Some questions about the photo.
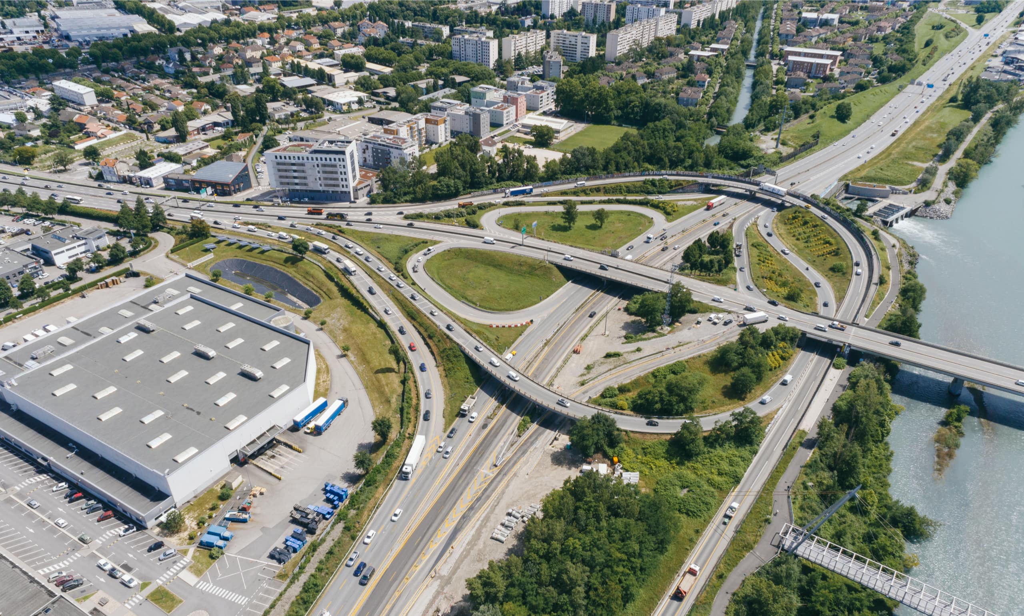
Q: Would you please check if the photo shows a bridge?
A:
Yes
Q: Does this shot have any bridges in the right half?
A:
Yes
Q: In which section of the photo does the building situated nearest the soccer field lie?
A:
top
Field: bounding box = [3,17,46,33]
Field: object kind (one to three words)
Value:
building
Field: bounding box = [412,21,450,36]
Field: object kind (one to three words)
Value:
building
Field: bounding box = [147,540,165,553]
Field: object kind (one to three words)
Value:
vehicle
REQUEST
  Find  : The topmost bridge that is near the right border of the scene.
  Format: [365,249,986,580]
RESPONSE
[788,308,1024,407]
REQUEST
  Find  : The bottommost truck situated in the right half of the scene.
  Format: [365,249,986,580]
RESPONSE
[678,563,701,597]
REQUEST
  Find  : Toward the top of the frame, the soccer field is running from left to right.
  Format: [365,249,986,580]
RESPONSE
[551,124,630,152]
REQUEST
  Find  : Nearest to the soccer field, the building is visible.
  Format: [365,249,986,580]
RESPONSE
[522,115,573,140]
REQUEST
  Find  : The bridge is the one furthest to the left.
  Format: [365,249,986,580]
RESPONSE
[458,334,592,422]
